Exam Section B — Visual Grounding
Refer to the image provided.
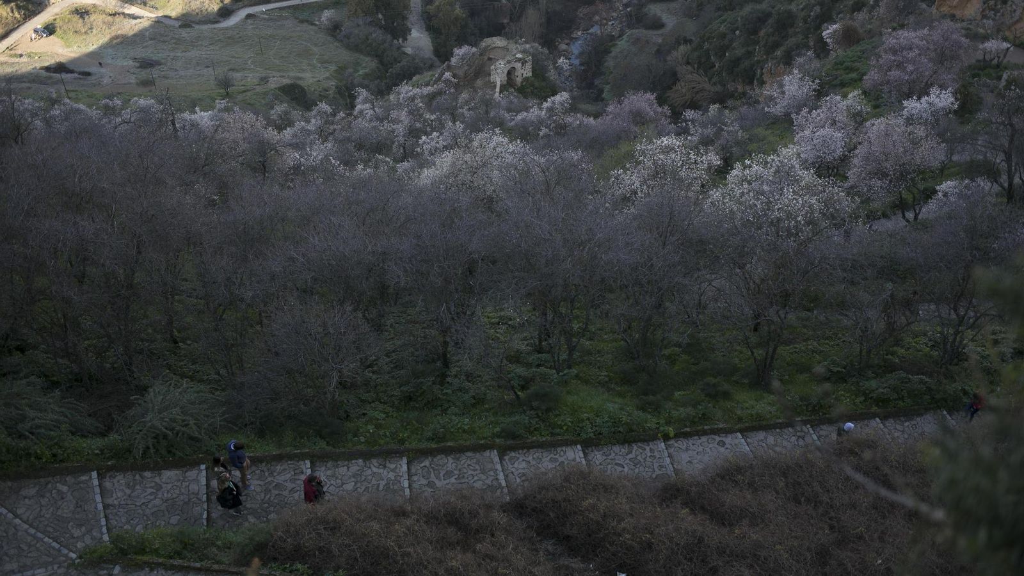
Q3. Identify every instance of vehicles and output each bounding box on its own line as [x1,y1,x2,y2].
[34,26,48,38]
